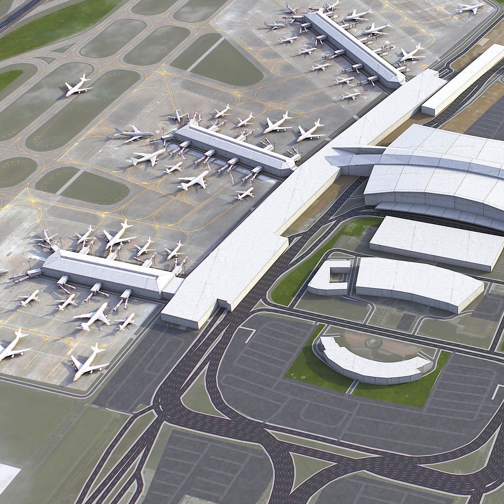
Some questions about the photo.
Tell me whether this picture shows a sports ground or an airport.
airport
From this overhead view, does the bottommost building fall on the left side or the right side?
right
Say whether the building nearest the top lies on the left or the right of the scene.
right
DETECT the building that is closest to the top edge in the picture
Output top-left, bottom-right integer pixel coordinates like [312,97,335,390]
[421,43,504,116]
